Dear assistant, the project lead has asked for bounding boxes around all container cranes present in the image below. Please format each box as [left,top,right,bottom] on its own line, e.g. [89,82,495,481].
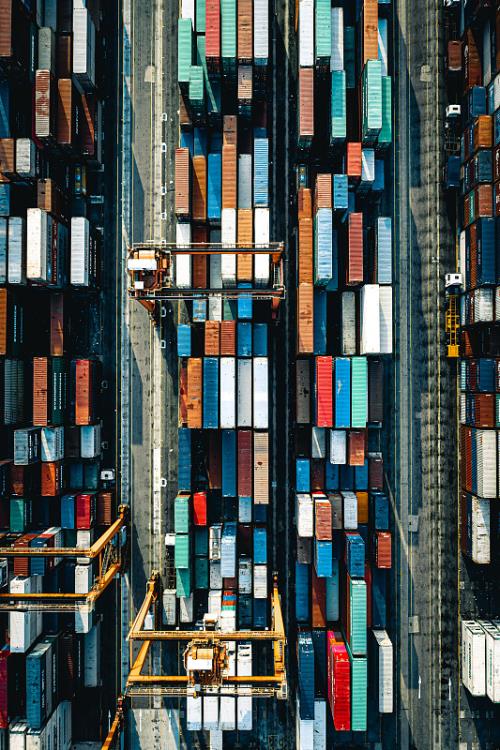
[124,570,293,703]
[123,239,293,328]
[103,702,126,750]
[0,503,127,620]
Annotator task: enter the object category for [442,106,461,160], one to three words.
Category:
vehicle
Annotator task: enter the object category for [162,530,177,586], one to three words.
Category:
vehicle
